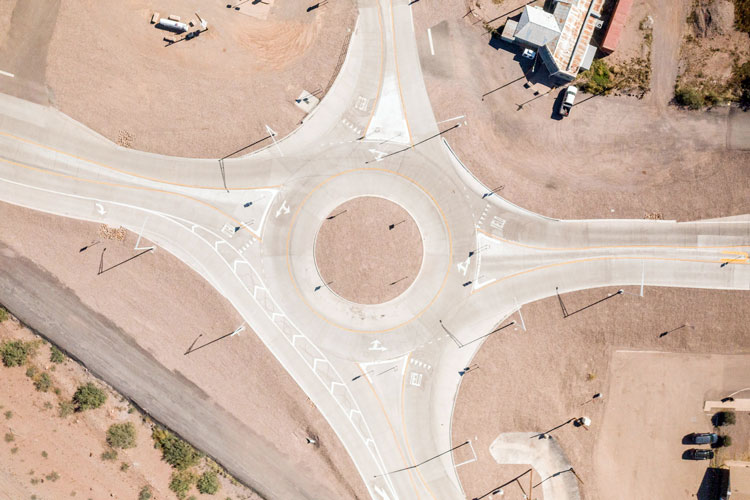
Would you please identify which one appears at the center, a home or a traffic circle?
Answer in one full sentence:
It is a traffic circle that can be seen at the center.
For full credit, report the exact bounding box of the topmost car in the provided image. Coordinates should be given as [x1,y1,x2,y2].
[520,49,535,61]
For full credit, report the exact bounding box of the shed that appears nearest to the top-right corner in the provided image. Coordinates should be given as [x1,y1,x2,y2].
[595,0,632,56]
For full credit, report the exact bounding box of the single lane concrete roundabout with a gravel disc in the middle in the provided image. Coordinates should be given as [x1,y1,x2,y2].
[258,139,479,361]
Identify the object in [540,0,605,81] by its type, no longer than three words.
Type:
building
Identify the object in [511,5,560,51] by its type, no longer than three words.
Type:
house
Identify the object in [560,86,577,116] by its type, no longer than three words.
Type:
vehicle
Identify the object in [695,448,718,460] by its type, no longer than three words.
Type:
vehicle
